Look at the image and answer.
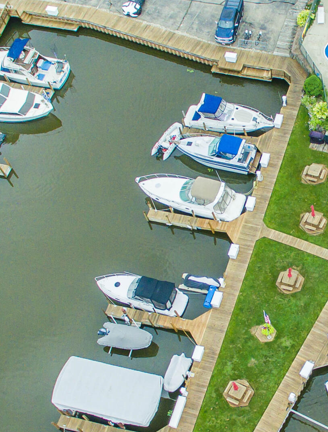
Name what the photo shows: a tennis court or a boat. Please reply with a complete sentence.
Of the two, only a boat appears.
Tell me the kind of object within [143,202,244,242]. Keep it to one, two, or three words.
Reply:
pier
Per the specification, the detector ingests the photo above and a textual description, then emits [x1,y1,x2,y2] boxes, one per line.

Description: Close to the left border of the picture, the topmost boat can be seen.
[0,33,73,90]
